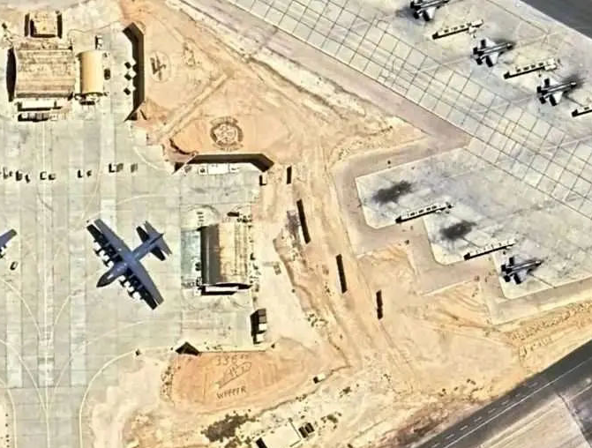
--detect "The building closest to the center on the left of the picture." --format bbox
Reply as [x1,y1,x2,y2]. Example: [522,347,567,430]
[200,222,246,288]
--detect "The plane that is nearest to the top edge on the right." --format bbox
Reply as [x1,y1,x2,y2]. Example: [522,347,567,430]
[408,0,449,21]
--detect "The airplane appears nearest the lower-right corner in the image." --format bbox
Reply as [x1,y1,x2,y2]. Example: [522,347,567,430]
[500,256,540,283]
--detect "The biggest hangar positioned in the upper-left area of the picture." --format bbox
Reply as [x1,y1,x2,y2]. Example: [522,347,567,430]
[11,52,74,98]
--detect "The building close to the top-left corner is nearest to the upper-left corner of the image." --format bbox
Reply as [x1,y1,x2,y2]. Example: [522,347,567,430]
[34,11,58,37]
